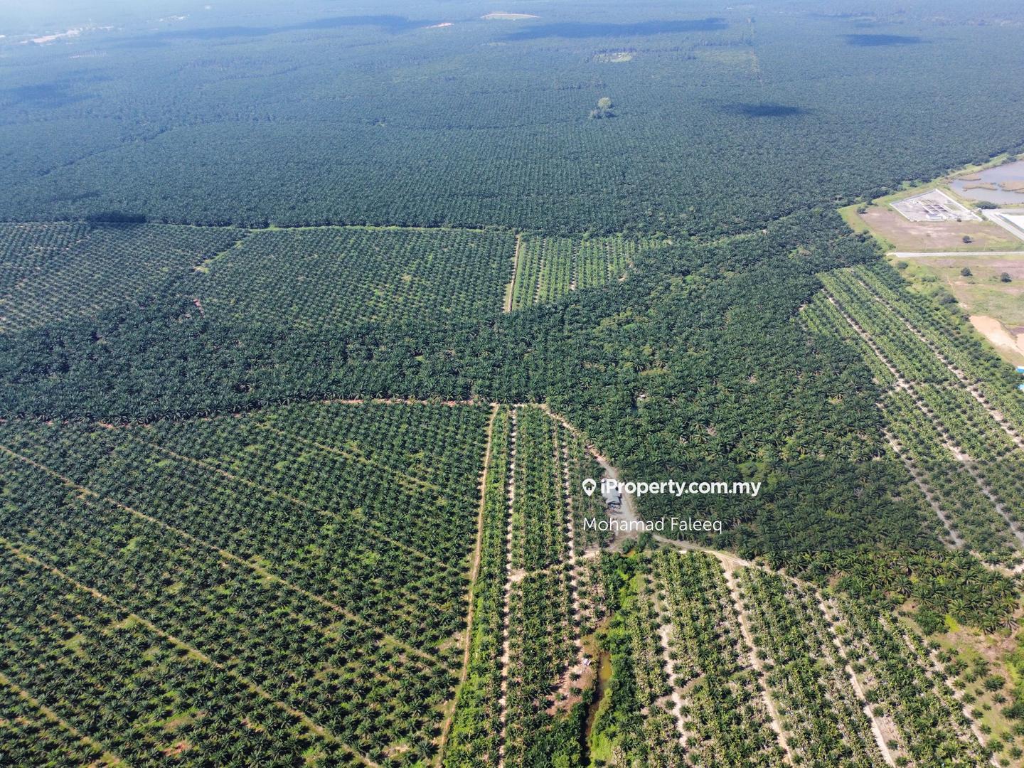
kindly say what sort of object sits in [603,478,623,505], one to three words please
shed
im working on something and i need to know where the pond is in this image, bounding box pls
[951,160,1024,204]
